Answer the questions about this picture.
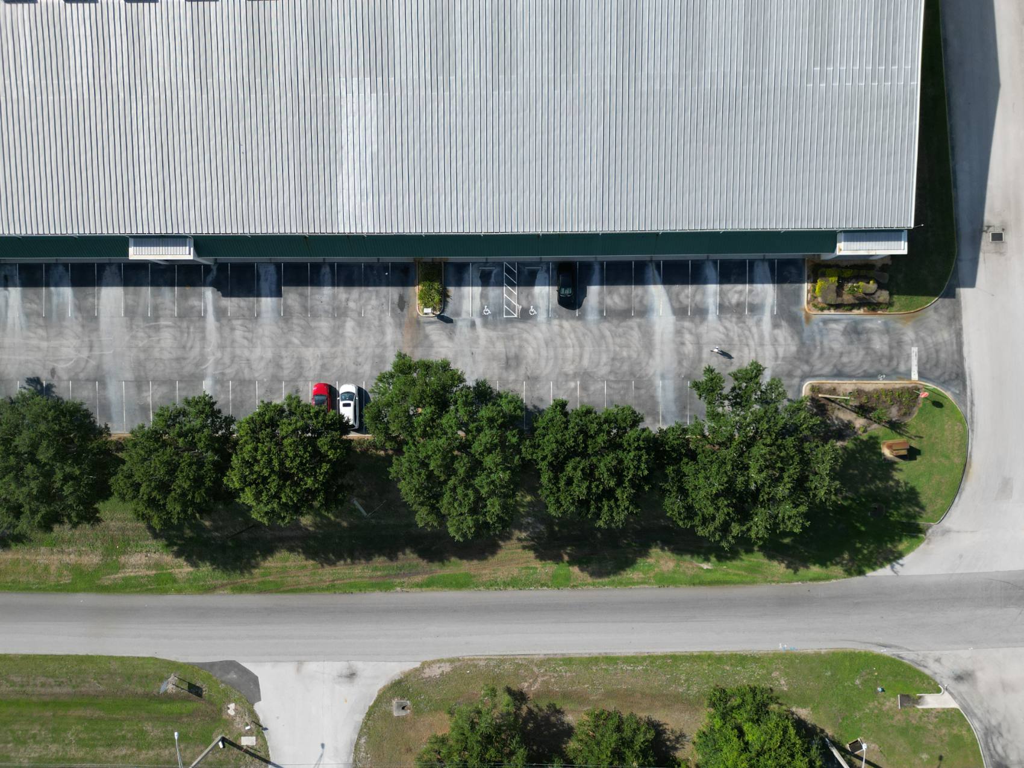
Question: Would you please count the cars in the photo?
3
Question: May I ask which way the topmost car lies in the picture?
vertically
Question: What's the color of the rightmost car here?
black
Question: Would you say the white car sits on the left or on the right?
left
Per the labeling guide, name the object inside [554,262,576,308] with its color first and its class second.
black car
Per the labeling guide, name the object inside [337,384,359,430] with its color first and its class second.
white car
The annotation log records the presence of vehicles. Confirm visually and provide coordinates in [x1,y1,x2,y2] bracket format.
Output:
[310,383,332,427]
[554,262,576,308]
[337,384,359,430]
